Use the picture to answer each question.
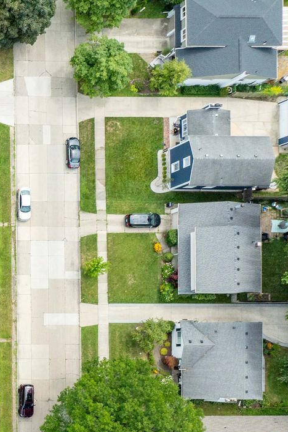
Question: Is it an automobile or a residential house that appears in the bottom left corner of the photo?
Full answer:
It is an automobile that can be seen in the bottom left corner of the photo.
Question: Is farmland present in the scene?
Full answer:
No, no farmland is visible.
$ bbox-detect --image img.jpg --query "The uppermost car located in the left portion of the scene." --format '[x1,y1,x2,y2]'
[63,138,81,170]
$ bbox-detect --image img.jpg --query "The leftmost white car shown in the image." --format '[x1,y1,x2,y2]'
[14,187,29,222]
